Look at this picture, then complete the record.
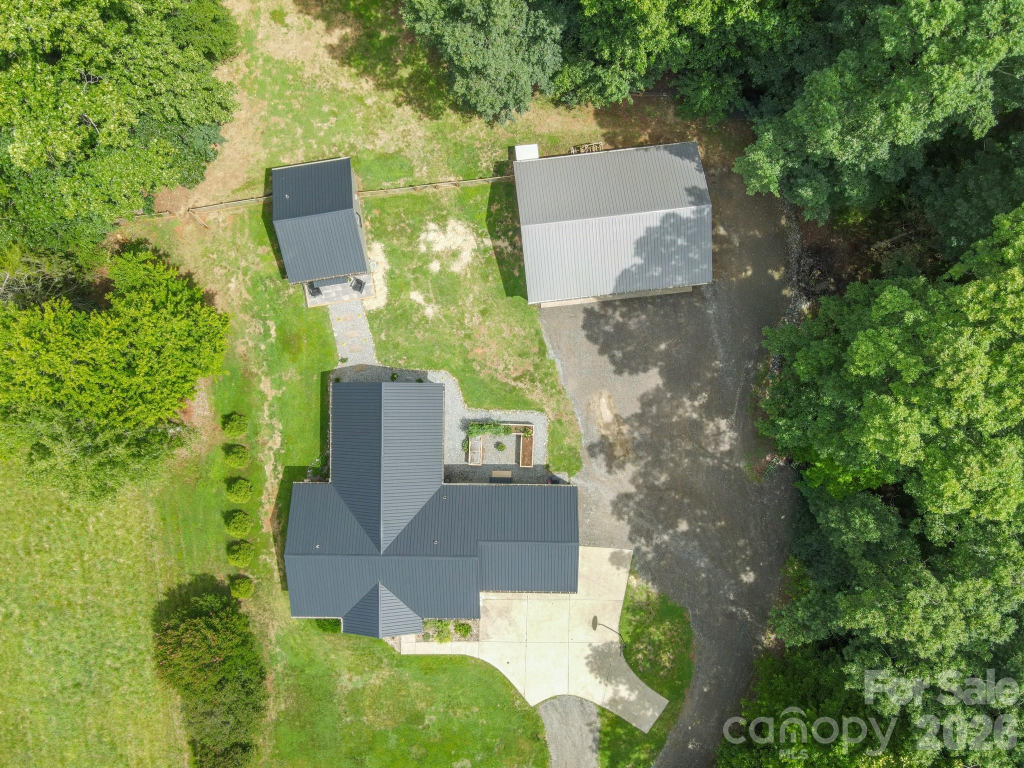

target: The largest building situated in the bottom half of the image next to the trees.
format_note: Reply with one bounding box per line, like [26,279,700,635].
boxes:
[283,382,581,639]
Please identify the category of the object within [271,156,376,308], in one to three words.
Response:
shed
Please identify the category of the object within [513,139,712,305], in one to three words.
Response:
barn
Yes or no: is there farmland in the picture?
No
